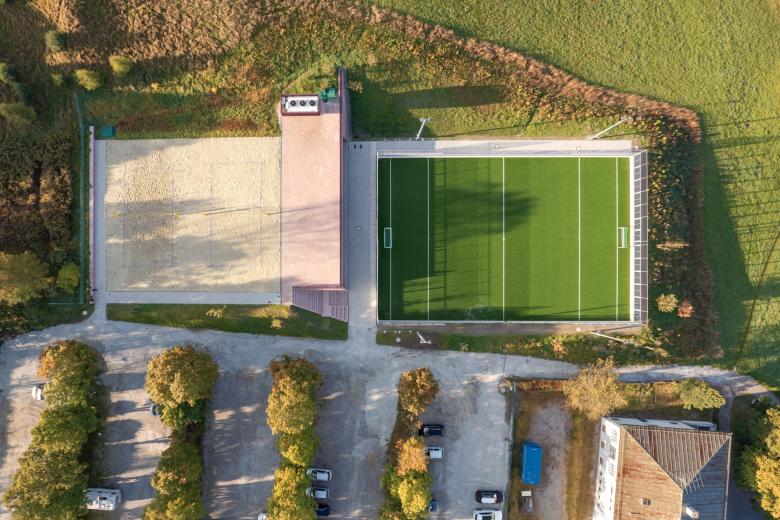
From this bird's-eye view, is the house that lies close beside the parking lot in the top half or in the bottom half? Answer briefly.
bottom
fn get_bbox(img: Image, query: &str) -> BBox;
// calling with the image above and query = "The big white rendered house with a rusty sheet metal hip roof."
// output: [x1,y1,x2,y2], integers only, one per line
[595,416,734,520]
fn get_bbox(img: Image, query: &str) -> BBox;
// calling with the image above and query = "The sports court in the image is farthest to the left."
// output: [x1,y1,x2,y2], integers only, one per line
[107,138,192,294]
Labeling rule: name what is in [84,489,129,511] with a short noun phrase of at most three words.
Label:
camper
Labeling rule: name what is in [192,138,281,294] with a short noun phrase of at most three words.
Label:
sports court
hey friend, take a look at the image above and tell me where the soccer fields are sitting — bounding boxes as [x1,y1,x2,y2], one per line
[377,155,636,323]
